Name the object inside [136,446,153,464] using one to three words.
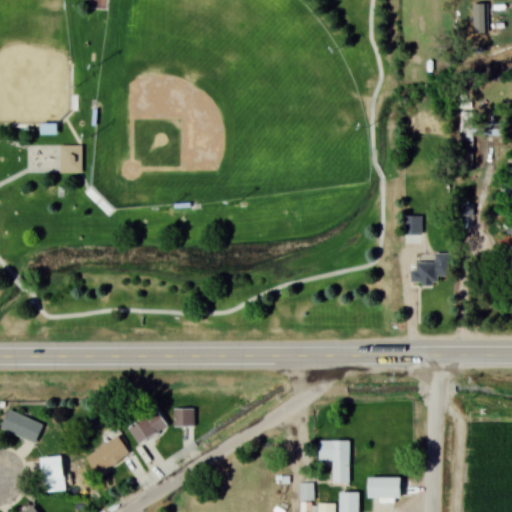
camper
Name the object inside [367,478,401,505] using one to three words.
house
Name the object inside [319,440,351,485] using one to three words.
house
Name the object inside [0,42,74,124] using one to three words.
baseball field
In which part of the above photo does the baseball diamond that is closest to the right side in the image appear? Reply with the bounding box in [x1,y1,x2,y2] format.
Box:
[90,0,370,209]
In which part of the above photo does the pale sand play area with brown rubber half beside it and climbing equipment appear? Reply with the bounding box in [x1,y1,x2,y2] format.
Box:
[27,144,84,174]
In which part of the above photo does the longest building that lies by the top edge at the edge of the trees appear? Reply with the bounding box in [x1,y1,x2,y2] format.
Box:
[474,2,489,34]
